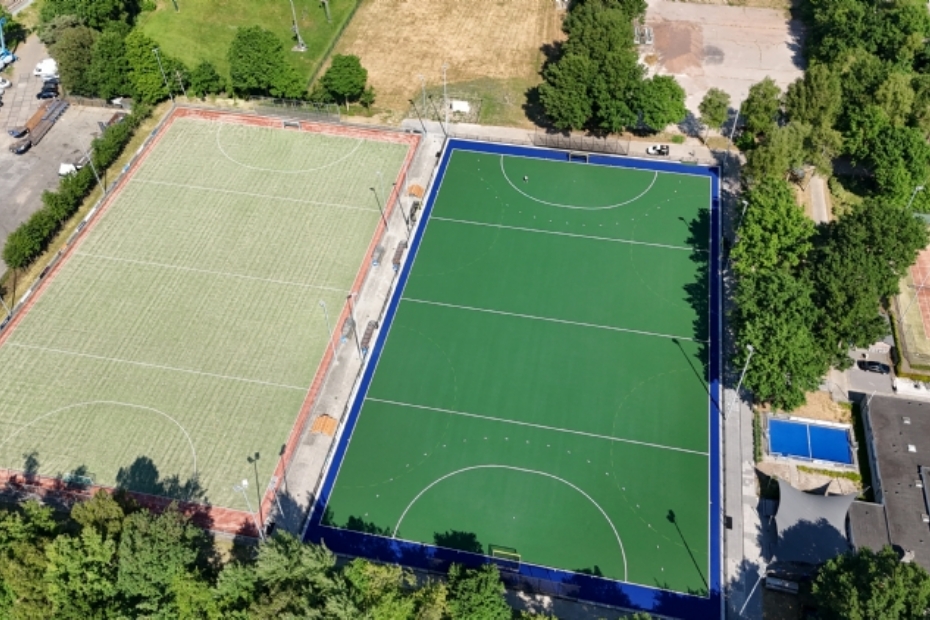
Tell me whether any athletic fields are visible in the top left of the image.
Yes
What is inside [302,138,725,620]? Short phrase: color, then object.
green sports field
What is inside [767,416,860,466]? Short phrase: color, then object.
blue sports court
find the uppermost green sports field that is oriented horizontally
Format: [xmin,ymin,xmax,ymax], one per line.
[139,0,364,93]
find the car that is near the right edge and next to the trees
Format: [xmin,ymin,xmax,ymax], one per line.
[857,355,890,374]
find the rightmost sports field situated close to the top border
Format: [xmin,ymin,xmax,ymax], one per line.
[311,0,577,125]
